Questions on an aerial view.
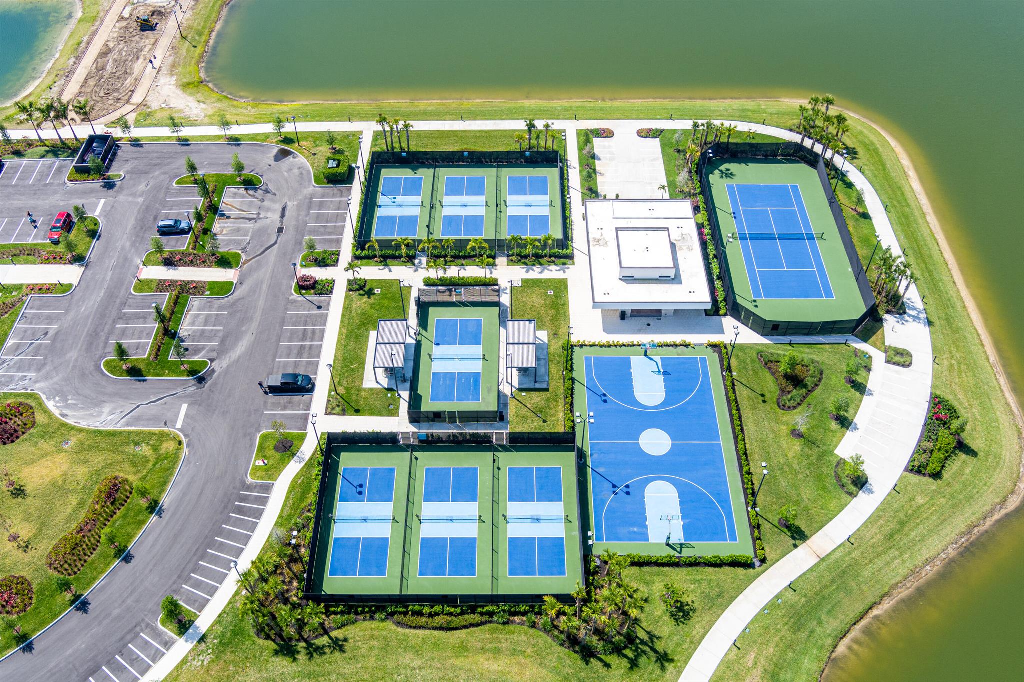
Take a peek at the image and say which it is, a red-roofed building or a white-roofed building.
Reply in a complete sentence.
Looking from above, you can make out a white-roofed building.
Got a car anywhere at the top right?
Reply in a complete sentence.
No, looking at the top right, there is no car.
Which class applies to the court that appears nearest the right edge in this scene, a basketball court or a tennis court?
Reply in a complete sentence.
It turns out the court that appears nearest the right edge is a tennis court.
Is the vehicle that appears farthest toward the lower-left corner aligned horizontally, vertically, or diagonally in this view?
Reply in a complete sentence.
From this overhead view, the vehicle that appears farthest toward the lower-left corner appears to run horizontally.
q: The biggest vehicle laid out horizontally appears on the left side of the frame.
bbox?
[264,374,315,394]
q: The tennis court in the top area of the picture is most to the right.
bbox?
[703,157,866,335]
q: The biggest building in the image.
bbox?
[584,199,712,316]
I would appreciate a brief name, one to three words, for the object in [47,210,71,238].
car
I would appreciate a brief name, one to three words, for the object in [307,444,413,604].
sports court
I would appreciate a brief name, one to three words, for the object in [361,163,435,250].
sports court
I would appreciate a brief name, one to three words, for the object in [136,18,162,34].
work vehicle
